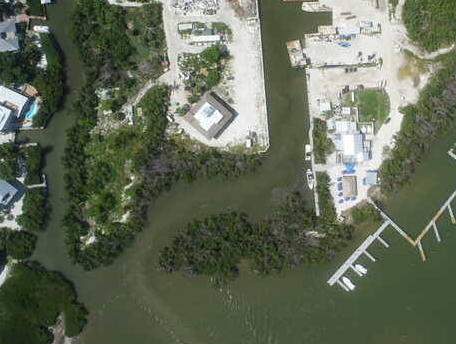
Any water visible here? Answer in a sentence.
Yes, some water is visible.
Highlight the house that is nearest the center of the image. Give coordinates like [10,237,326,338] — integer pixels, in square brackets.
[184,92,234,138]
